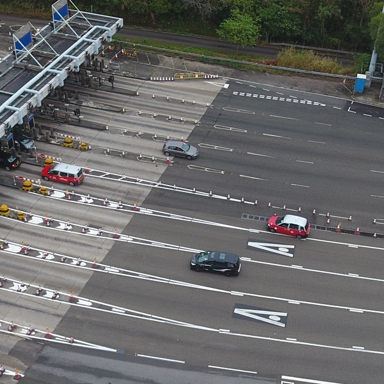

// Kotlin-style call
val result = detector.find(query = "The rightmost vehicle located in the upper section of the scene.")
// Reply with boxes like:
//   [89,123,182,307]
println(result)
[160,137,198,159]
